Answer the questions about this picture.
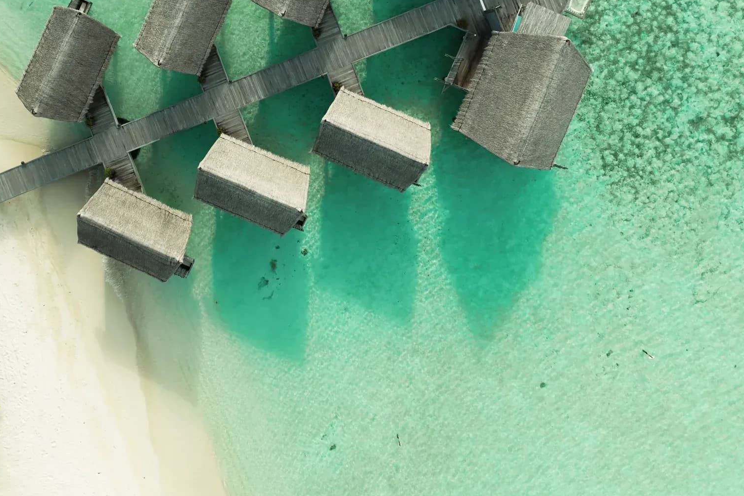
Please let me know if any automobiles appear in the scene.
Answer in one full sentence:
No, the scene contains no automobile.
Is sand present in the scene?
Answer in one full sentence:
Yes, there is sand in the image.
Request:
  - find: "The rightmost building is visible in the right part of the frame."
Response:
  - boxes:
[438,31,593,169]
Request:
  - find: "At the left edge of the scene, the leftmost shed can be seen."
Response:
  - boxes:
[15,0,122,122]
